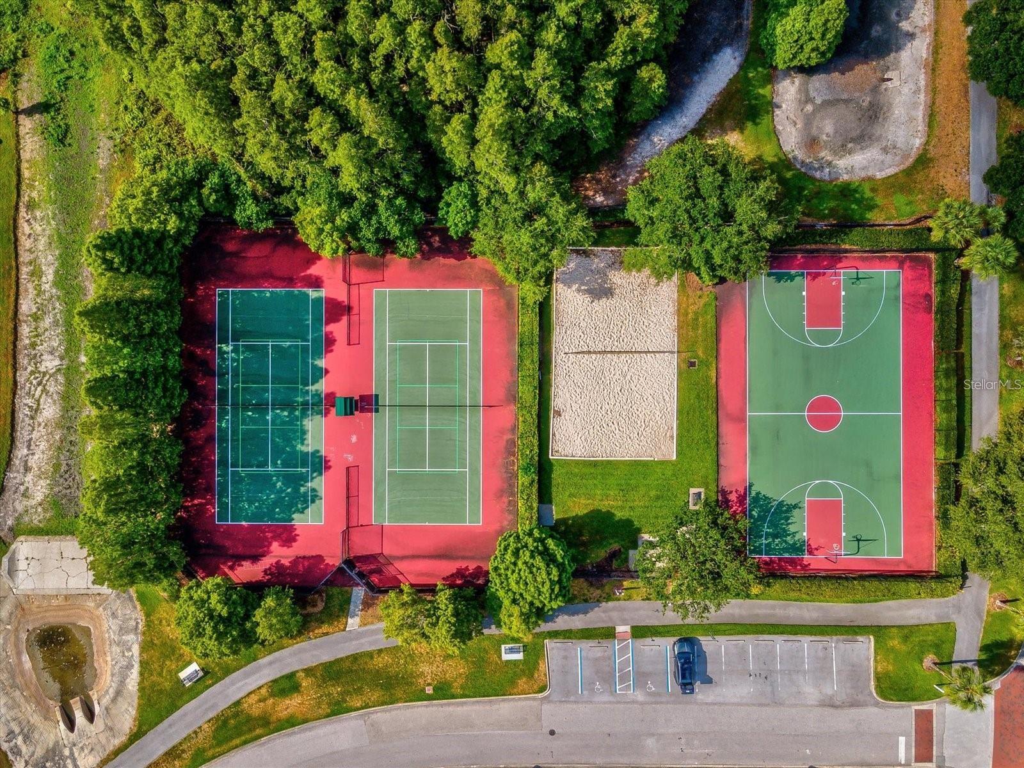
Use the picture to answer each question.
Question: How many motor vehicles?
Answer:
1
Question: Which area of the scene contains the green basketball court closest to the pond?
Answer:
right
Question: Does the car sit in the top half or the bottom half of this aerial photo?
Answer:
bottom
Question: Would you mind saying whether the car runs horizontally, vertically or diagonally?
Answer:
vertically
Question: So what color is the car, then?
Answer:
blue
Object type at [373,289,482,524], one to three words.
tennis court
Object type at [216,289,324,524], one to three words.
tennis court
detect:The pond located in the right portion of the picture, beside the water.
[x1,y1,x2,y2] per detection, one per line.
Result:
[773,0,933,180]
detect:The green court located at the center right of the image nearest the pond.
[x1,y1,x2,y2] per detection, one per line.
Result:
[715,255,936,574]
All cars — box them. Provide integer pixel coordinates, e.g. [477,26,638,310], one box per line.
[672,637,695,697]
